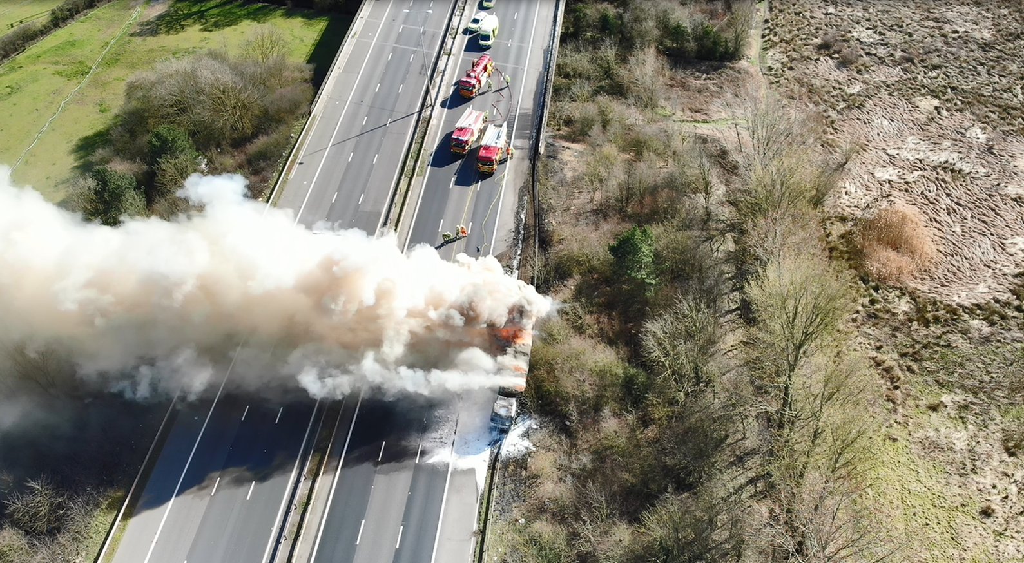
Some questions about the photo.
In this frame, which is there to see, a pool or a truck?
truck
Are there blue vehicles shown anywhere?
No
